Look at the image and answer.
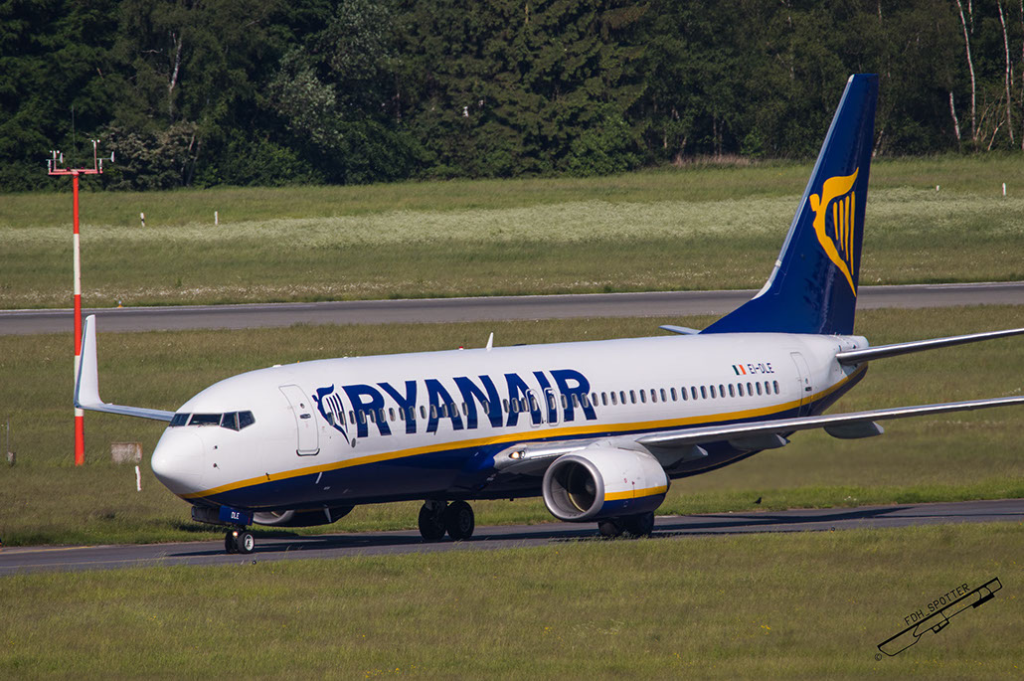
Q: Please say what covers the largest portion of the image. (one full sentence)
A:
The scene is dominated by grass.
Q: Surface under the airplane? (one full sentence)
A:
In this view, the airplane is located on the grass.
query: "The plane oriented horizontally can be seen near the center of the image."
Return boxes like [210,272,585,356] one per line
[69,72,1024,554]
